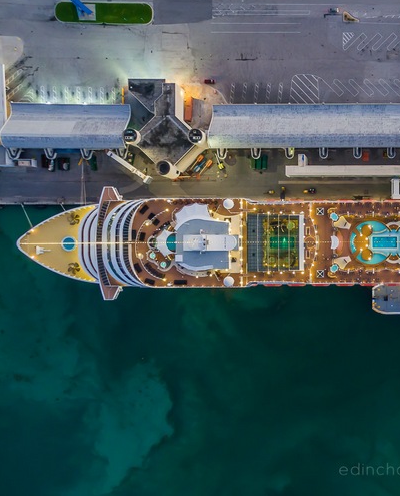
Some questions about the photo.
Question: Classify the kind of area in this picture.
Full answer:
The area seen from above is a port.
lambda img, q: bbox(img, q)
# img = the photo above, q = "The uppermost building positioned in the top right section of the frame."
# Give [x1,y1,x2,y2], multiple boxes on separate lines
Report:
[209,102,400,161]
